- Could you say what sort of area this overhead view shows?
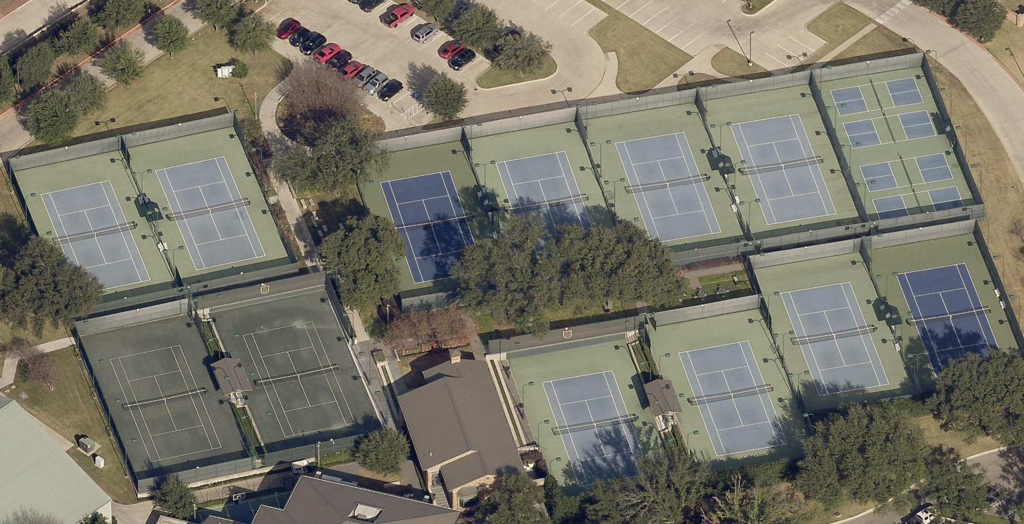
sports ground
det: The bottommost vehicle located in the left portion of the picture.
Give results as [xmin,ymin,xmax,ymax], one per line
[290,456,314,475]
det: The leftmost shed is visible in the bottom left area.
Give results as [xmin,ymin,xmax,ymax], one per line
[0,393,112,524]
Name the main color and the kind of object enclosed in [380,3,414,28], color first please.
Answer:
red truck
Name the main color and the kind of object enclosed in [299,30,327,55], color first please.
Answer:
black car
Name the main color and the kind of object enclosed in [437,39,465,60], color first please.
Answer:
red car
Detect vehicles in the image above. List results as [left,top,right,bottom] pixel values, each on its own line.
[299,30,327,55]
[353,62,381,86]
[288,27,313,46]
[377,79,405,101]
[380,3,414,28]
[358,0,385,14]
[410,21,439,44]
[339,60,367,78]
[290,456,314,475]
[448,45,477,70]
[903,508,939,524]
[327,48,354,70]
[482,40,510,60]
[437,39,465,60]
[363,70,392,95]
[344,0,366,10]
[276,17,304,39]
[313,43,342,64]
